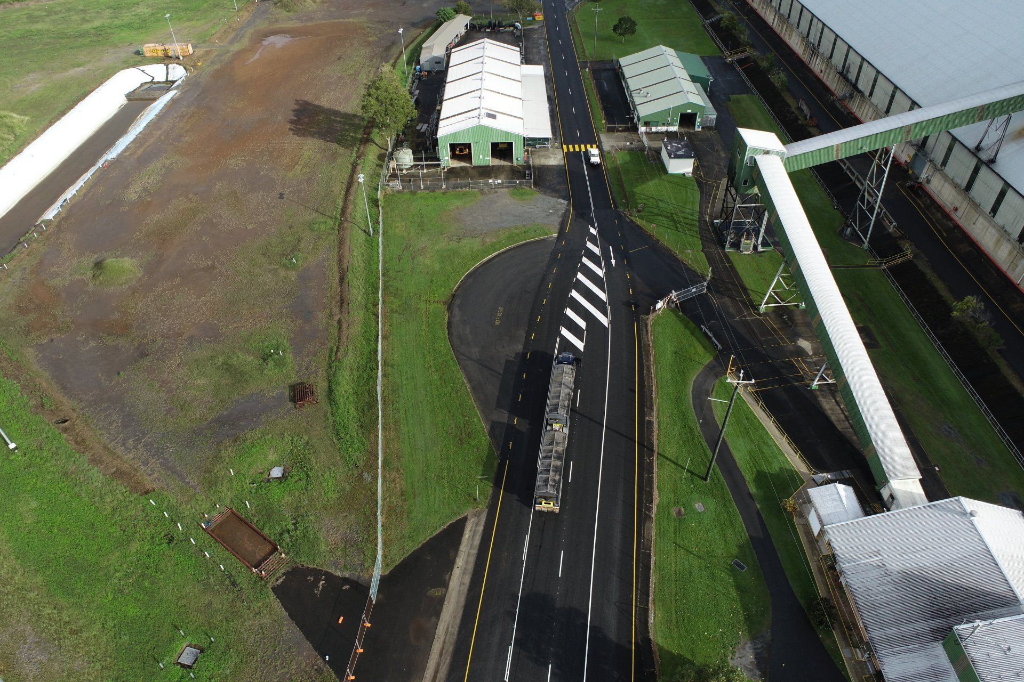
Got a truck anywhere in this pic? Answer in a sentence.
Yes, there is a truck in the image.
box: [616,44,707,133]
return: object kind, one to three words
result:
shed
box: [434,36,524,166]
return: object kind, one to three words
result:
building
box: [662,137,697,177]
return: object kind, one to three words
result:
shed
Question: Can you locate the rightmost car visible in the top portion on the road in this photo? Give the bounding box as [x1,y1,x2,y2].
[588,144,600,162]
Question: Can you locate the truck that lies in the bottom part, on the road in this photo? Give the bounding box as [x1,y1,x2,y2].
[535,352,577,516]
